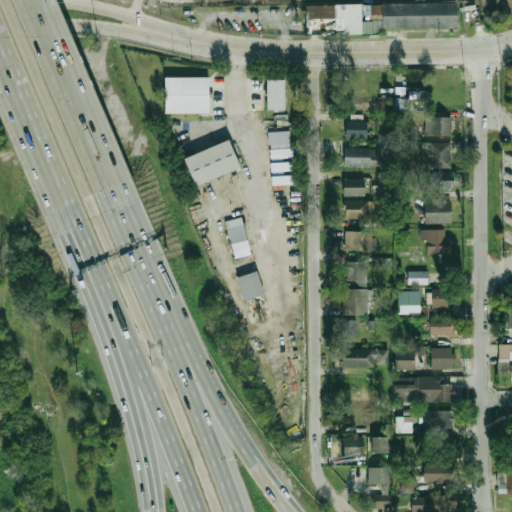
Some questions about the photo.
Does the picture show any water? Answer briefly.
No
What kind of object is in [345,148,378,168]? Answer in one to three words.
house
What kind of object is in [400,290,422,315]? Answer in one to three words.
shed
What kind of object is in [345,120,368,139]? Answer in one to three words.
house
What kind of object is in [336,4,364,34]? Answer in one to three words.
building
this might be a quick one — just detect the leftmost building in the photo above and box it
[165,76,210,114]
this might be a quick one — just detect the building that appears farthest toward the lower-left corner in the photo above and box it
[239,272,264,300]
